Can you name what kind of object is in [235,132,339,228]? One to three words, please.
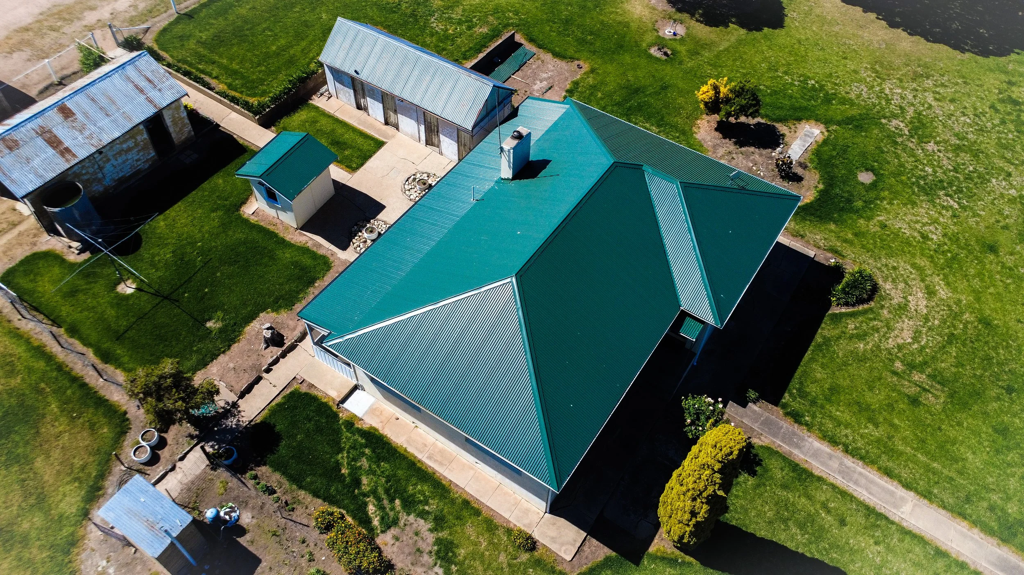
shed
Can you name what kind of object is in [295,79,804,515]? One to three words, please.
house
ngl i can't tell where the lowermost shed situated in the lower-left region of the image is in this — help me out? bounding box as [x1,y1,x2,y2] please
[96,474,209,575]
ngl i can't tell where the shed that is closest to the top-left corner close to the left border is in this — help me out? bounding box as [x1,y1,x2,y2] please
[0,49,191,239]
